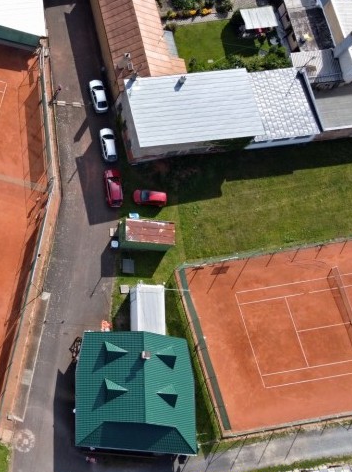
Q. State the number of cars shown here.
4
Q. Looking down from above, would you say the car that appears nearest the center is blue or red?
red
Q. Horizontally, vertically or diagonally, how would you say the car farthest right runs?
horizontally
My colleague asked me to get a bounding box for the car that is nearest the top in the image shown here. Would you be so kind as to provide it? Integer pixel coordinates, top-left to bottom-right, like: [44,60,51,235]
[89,80,109,114]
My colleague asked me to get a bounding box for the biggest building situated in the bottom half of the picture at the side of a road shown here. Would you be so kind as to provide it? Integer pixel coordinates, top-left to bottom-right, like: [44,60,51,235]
[75,332,197,456]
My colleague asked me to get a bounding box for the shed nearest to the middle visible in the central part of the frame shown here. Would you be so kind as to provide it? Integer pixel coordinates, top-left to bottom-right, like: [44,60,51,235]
[120,219,175,251]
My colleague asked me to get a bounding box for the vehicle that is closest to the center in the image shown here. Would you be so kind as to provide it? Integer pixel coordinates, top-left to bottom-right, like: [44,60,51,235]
[131,188,168,208]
